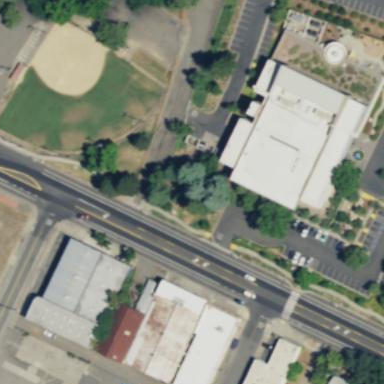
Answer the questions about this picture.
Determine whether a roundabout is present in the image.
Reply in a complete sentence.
No, the picture doesn't show any roundabout.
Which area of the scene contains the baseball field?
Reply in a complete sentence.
The baseball field sits in the top left section of the image.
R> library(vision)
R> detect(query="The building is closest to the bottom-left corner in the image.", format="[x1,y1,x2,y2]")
[25,296,97,348]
